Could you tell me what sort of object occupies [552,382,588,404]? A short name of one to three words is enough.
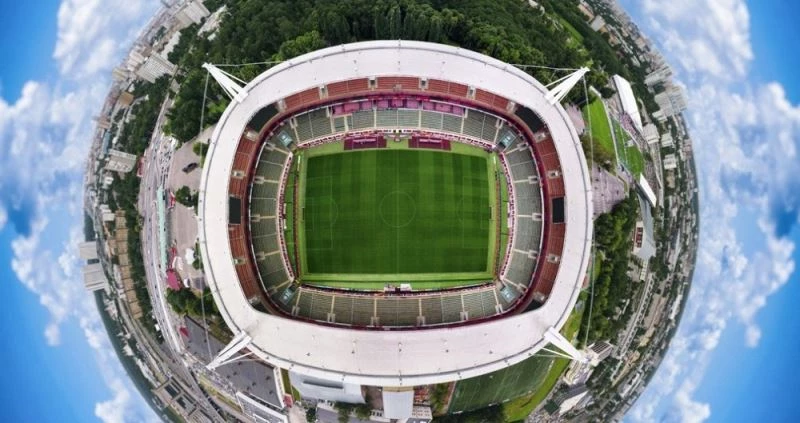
shed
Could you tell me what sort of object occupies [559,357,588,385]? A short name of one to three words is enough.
building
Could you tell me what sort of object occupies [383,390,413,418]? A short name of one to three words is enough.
building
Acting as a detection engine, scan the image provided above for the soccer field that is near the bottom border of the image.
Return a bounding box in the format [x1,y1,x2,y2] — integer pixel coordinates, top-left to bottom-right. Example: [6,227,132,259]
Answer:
[449,320,580,423]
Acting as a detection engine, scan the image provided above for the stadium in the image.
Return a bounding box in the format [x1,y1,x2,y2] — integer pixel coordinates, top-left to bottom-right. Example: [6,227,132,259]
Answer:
[197,40,594,390]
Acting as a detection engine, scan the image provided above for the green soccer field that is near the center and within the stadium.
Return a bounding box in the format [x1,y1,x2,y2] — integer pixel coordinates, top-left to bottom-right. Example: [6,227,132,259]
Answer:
[279,131,513,295]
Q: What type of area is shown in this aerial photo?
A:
sports ground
